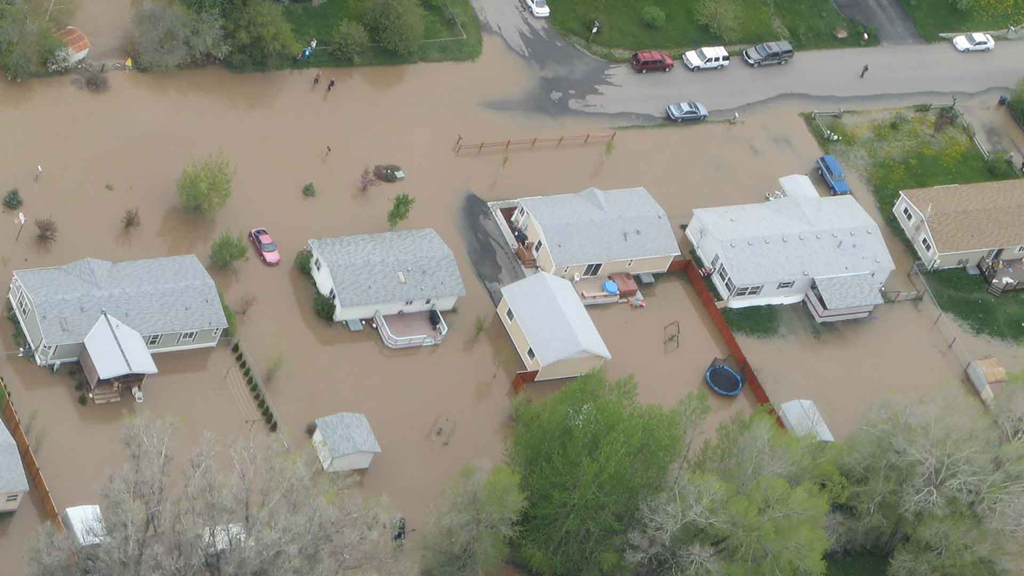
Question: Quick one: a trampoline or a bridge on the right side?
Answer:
trampoline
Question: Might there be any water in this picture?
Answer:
Yes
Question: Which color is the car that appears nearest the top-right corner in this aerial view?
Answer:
white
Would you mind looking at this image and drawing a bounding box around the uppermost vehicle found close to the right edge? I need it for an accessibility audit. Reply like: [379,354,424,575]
[951,32,995,52]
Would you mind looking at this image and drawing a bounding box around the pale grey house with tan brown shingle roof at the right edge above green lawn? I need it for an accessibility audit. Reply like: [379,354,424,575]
[893,179,1024,269]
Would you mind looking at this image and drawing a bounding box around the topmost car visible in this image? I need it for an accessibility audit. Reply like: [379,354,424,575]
[518,0,554,24]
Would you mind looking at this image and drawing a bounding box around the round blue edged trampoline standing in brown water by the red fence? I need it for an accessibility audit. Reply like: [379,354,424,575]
[706,350,747,396]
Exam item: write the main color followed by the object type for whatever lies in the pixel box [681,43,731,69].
white car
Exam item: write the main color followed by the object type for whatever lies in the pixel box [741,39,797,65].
gray truck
